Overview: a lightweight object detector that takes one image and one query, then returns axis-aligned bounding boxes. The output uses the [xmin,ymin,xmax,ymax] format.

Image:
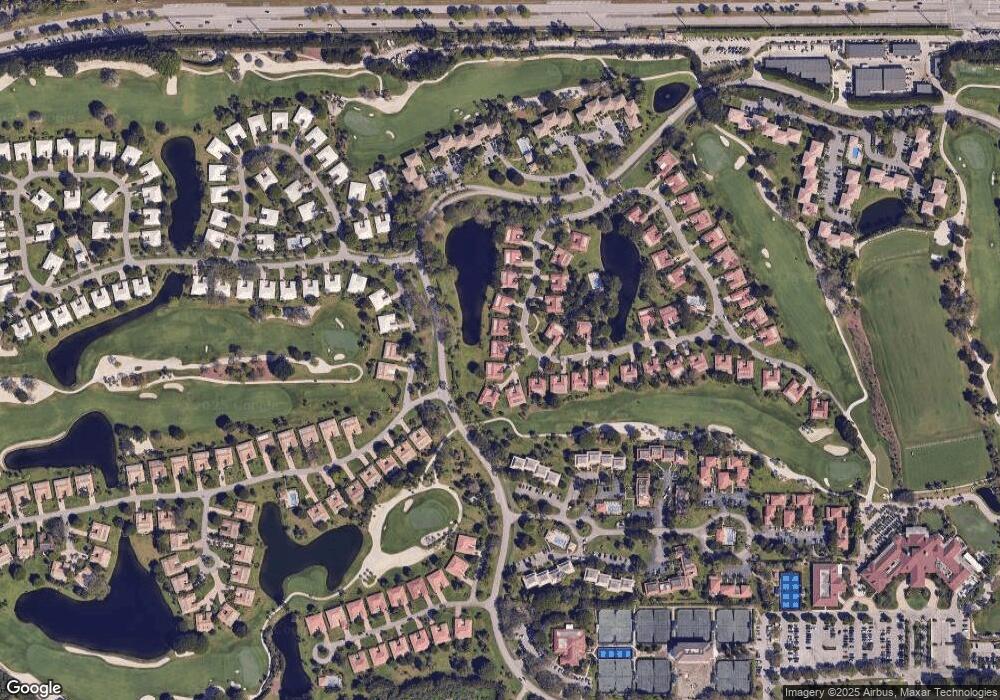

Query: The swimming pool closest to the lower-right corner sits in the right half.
[725,526,737,546]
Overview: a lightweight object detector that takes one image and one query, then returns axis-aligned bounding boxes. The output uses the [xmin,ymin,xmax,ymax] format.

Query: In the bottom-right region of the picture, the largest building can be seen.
[860,526,977,596]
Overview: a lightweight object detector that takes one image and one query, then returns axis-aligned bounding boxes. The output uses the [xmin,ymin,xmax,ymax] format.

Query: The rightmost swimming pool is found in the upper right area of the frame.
[850,145,865,165]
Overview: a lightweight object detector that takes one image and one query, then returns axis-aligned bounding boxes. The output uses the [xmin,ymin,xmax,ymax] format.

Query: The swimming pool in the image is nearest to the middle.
[587,270,604,289]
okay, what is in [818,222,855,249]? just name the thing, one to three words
building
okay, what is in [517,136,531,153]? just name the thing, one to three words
swimming pool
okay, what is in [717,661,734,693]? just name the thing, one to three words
tennis court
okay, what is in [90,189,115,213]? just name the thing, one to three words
house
